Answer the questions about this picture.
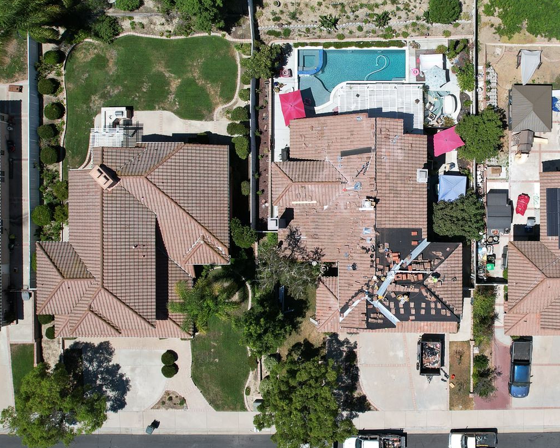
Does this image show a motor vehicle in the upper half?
No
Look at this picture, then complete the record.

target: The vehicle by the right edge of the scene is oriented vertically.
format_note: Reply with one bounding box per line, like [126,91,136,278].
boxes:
[509,338,537,401]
